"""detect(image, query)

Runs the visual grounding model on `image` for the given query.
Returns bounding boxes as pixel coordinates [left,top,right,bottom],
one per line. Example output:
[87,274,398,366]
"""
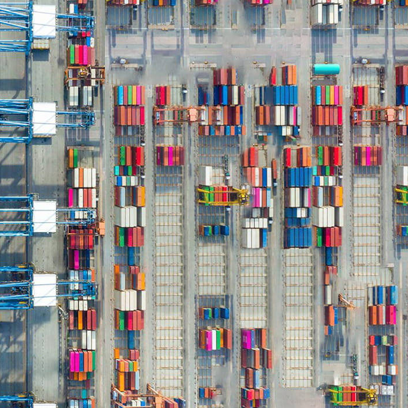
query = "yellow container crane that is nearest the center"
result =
[196,188,249,206]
